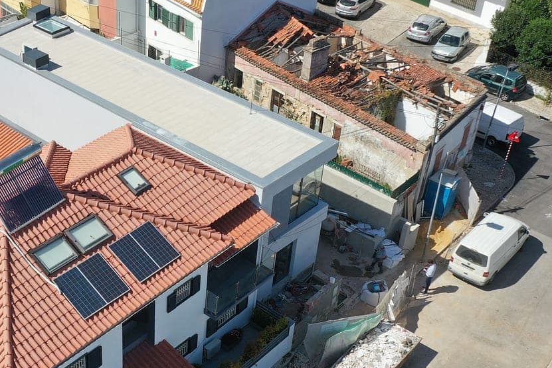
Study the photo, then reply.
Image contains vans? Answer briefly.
Yes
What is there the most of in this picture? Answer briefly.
buildings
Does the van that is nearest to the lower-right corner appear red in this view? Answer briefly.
No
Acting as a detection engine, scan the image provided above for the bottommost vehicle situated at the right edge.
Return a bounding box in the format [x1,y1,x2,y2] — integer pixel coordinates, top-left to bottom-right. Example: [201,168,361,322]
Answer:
[448,209,531,284]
